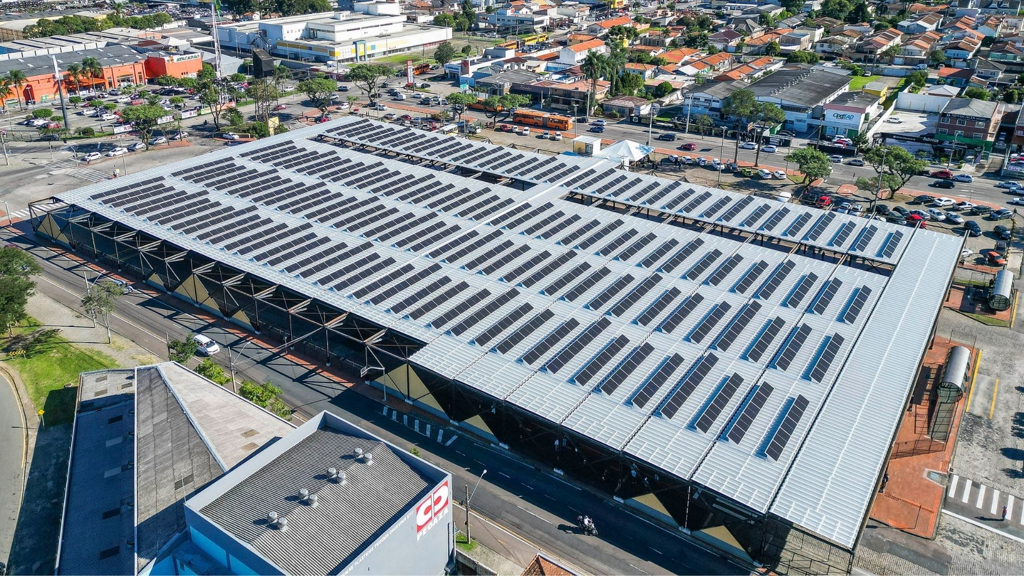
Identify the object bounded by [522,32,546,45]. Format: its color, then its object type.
yellow vehicle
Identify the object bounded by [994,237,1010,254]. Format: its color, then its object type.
black vehicle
